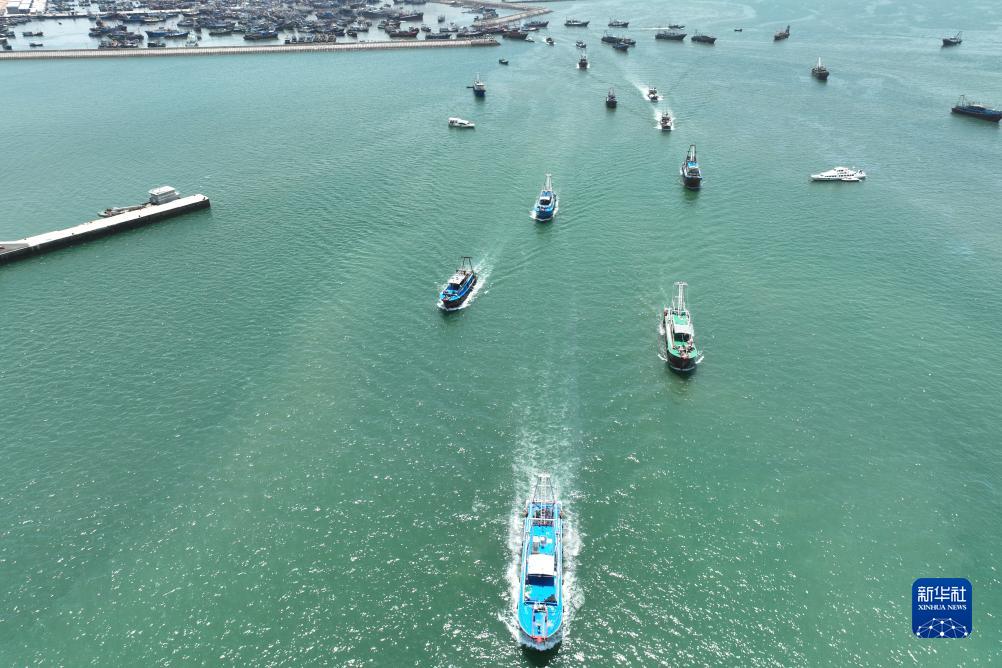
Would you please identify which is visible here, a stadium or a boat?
boat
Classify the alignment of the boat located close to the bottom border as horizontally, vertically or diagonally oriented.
vertically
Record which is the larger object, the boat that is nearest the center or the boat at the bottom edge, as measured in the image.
the boat at the bottom edge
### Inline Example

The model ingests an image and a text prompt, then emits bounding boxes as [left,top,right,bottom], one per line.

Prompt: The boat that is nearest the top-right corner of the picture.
[945,26,967,45]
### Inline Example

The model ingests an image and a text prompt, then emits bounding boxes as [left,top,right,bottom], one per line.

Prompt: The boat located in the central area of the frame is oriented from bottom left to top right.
[438,254,480,310]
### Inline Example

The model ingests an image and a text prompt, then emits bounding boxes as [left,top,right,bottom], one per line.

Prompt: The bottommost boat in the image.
[518,476,565,642]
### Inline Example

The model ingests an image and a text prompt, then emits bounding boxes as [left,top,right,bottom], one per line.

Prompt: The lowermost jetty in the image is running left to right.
[0,195,211,267]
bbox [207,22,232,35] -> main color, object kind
gray boat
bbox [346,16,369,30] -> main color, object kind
gray boat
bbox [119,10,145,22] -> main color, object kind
blue boat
